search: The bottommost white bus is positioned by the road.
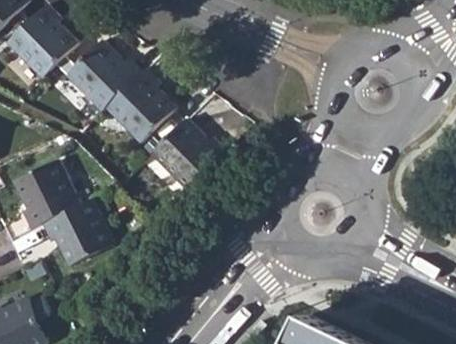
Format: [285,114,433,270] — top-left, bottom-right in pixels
[208,304,258,344]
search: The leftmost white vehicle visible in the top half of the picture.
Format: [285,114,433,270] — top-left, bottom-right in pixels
[314,120,330,142]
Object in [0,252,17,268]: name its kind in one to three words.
car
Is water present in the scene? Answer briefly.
No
